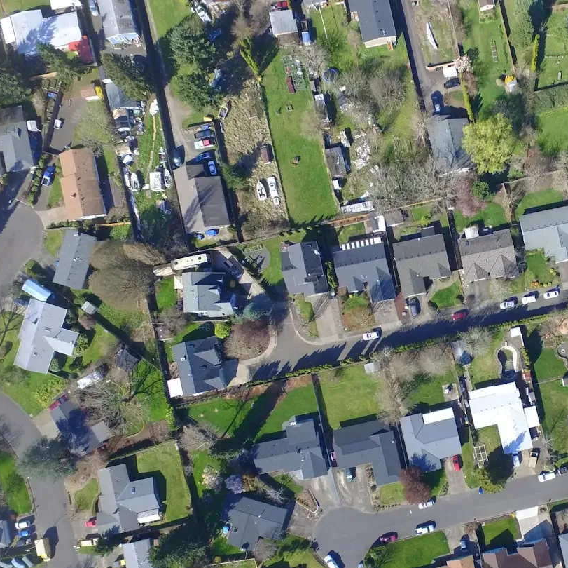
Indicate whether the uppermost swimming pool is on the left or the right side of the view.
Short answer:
right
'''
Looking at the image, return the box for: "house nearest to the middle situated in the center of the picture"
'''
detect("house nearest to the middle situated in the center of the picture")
[278,241,329,301]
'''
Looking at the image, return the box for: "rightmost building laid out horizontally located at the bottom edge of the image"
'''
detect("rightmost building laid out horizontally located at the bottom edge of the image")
[480,537,555,568]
